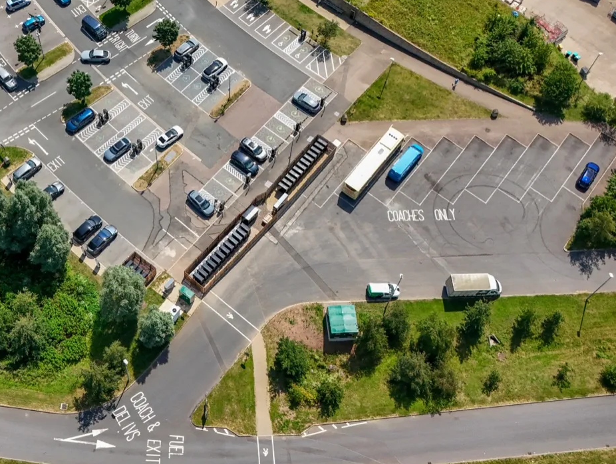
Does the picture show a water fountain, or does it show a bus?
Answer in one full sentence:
Looking from above, you can make out a bus.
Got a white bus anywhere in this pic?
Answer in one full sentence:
Yes, the frame does contain a white bus.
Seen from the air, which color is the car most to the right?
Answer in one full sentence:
The color of the car most to the right is blue.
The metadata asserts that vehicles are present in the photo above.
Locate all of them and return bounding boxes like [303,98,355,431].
[9,155,44,178]
[2,0,35,13]
[385,143,423,183]
[65,109,95,132]
[153,124,187,151]
[201,55,229,79]
[229,150,259,175]
[79,48,112,63]
[362,281,402,300]
[0,63,19,94]
[184,188,217,217]
[84,223,120,256]
[236,133,270,161]
[338,125,410,208]
[443,273,501,299]
[291,90,324,115]
[69,214,105,245]
[575,162,600,191]
[58,0,71,6]
[172,37,201,60]
[20,16,47,30]
[82,12,109,42]
[101,136,136,162]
